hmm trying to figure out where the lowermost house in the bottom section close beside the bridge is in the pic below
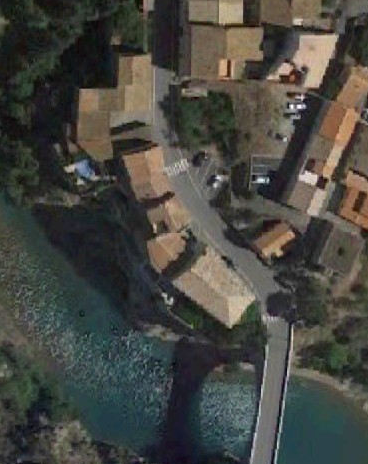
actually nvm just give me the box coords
[163,248,256,327]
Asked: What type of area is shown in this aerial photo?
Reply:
residential area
